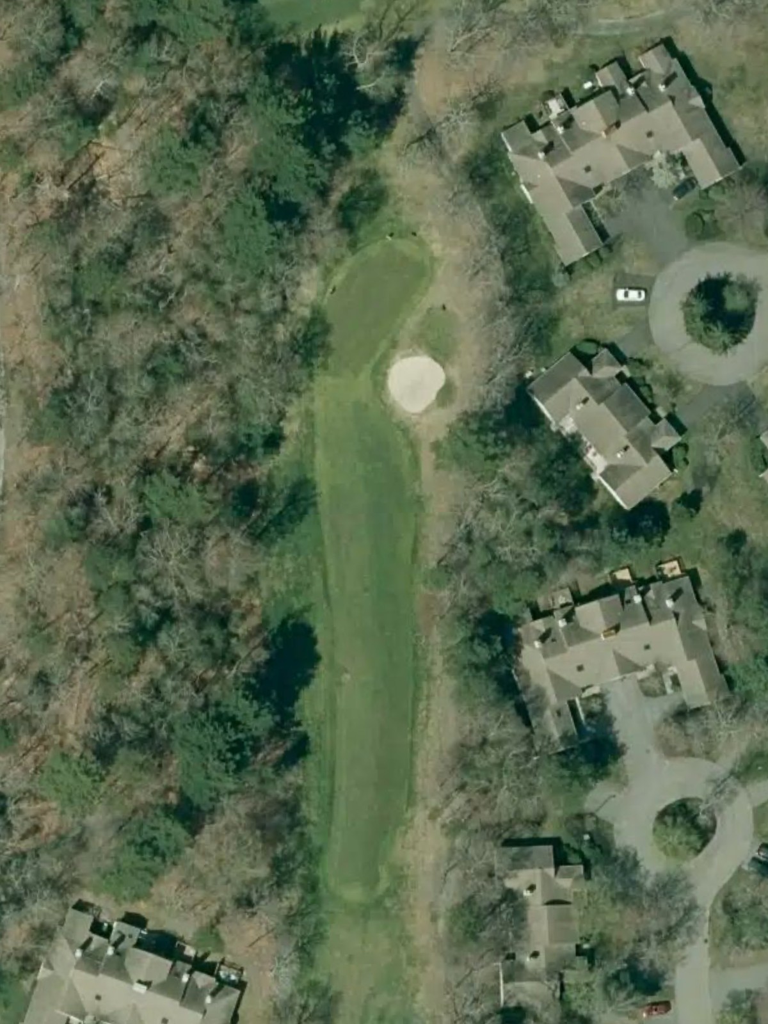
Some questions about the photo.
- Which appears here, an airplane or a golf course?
golf course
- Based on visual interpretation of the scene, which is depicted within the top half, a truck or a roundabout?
roundabout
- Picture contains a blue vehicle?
No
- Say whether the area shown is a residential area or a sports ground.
residential area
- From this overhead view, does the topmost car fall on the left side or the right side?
right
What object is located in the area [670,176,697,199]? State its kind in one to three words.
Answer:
car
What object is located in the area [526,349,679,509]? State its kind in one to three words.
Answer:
house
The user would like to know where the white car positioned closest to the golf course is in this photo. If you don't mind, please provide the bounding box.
[617,287,645,301]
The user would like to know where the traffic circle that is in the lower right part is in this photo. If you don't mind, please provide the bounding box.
[585,758,753,912]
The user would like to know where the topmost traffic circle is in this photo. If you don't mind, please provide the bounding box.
[649,243,768,386]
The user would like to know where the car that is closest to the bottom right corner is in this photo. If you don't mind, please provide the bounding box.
[642,1001,673,1017]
